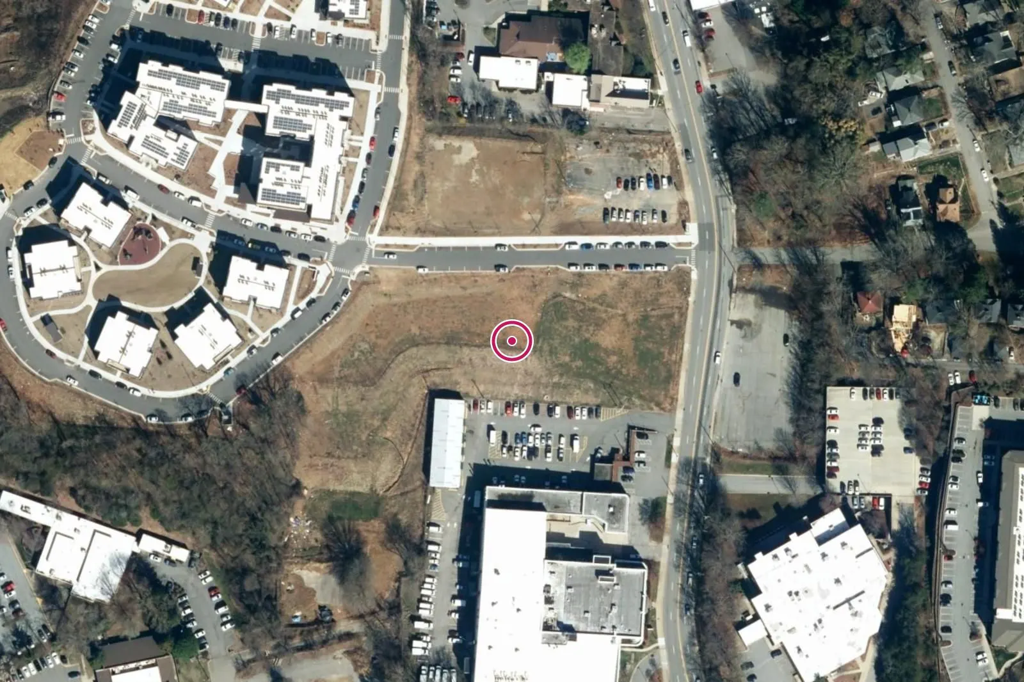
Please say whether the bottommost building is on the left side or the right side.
left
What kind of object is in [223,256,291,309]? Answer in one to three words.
house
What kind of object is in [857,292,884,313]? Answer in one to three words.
house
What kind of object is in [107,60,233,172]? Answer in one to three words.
building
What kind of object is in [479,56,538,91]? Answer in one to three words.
building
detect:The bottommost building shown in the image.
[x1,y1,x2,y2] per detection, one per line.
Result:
[95,636,176,682]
